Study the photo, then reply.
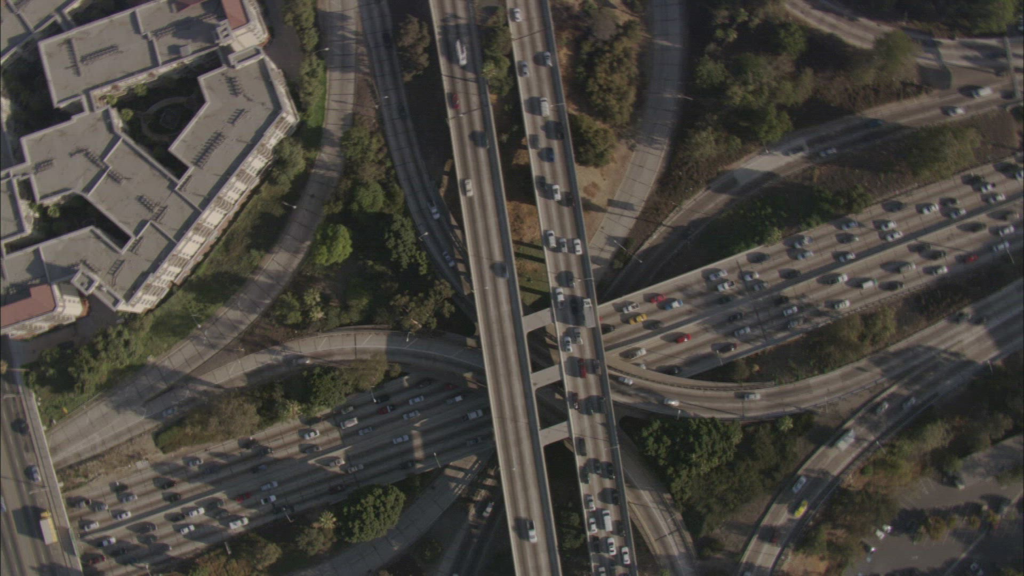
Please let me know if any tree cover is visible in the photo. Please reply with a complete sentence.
Yes, tree cover can be seen from above here.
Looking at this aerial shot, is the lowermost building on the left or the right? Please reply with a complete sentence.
The lowermost building is on the left side of the image.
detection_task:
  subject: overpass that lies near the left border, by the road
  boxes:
[0,269,87,576]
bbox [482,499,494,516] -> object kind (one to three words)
vehicle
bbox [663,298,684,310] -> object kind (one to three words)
vehicle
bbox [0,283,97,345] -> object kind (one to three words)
building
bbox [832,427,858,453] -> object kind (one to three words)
truck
